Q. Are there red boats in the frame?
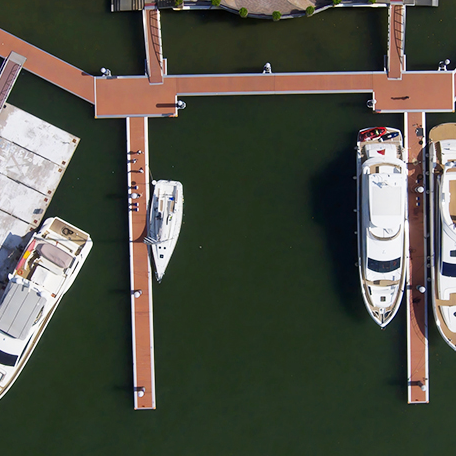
Yes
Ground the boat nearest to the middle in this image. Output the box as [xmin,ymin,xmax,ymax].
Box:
[144,180,183,283]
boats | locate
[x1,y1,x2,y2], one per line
[428,123,456,351]
[360,126,388,143]
[0,218,92,395]
[356,126,408,331]
[379,131,399,143]
[144,180,183,283]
